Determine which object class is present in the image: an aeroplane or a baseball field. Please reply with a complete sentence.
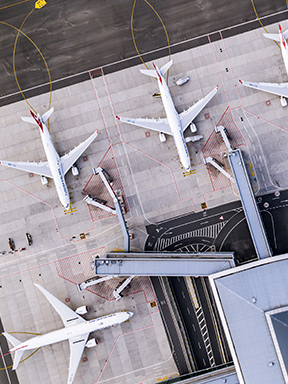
The one in the frame is an aeroplane.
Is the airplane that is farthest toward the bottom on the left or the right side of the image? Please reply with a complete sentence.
You can find the airplane that is farthest toward the bottom on the left side of the picture.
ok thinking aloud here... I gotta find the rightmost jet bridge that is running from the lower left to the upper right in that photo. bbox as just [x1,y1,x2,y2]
[114,275,140,300]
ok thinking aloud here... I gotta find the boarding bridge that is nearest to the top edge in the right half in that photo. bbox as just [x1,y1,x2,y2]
[215,125,236,154]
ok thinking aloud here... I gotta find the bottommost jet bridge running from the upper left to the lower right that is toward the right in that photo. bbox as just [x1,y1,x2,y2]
[205,156,237,184]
